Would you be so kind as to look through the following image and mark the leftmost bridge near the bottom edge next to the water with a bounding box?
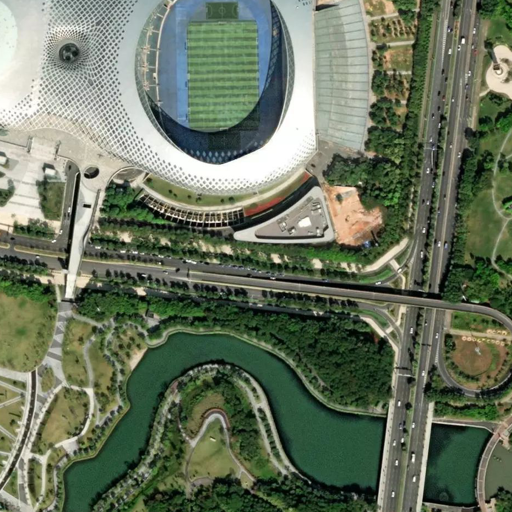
[378,402,434,512]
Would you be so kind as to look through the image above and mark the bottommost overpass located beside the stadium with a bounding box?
[175,269,512,394]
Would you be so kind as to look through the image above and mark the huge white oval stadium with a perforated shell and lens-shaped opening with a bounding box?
[0,0,316,192]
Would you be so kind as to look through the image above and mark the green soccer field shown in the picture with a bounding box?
[188,21,258,131]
